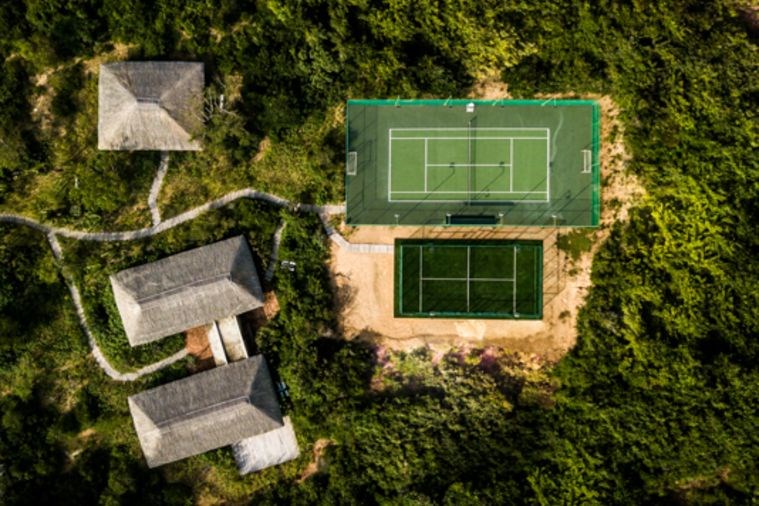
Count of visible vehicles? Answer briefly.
0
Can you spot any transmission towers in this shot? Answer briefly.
No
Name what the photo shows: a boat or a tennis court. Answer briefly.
tennis court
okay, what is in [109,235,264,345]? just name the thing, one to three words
house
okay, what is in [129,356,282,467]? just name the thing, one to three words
house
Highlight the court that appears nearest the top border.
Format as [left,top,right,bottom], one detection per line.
[345,104,593,228]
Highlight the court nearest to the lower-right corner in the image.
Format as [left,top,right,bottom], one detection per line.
[394,239,543,319]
